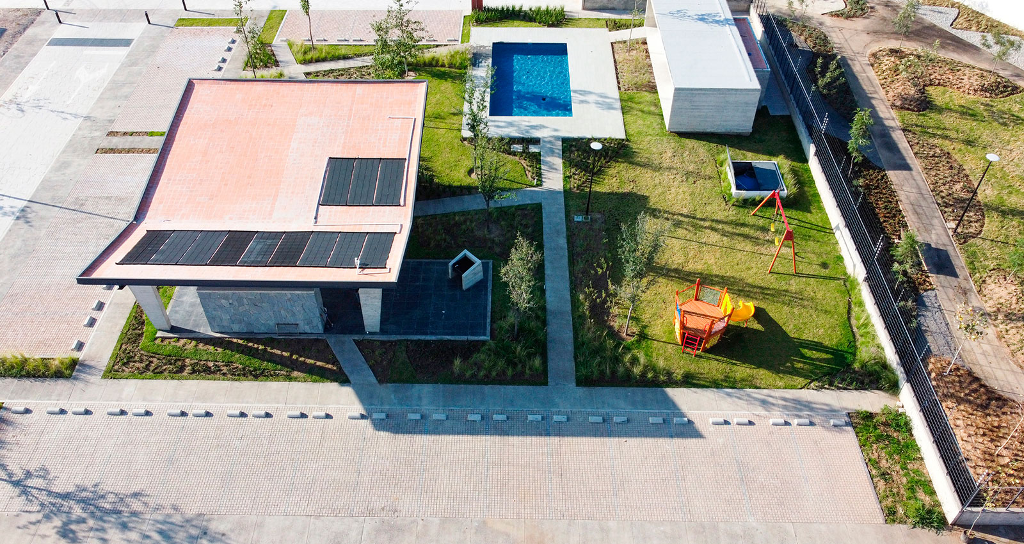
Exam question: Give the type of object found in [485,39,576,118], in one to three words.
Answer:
swimming pool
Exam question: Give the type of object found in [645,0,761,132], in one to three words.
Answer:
building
